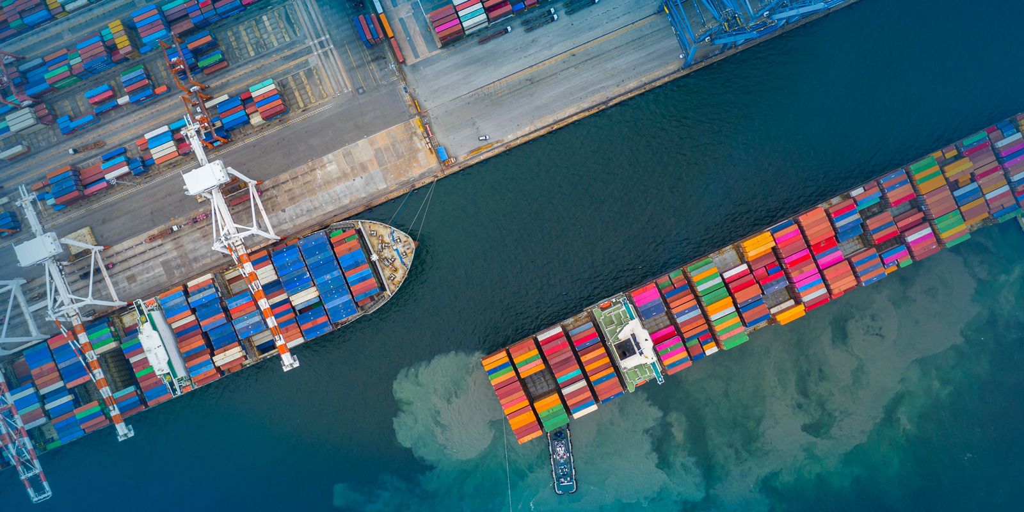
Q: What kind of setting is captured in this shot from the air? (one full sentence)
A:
What you see here is a port.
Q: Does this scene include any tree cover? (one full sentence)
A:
No, no tree cover is visible.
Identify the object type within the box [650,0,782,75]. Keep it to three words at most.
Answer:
container crane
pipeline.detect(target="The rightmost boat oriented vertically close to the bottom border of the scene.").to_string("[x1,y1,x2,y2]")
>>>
[546,422,577,496]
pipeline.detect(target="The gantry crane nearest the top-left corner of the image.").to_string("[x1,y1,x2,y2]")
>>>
[0,46,44,106]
